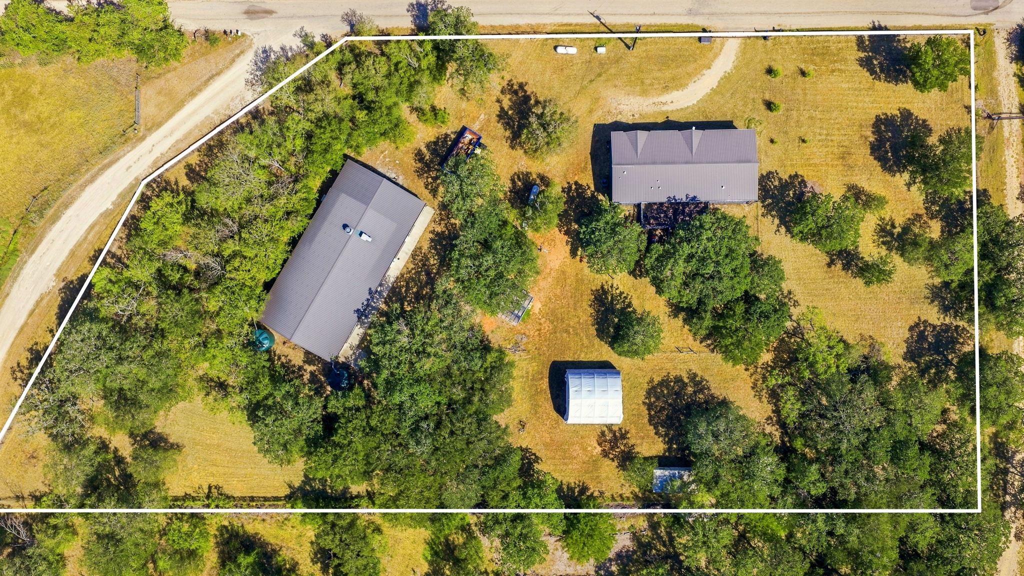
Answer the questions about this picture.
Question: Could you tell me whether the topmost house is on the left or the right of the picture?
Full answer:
The topmost house sits on the right side.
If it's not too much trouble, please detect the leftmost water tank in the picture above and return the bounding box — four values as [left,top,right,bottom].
[253,328,280,352]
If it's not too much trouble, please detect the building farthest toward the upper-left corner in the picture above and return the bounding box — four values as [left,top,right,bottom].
[257,160,426,363]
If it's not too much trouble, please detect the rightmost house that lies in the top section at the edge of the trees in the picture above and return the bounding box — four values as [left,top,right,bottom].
[611,126,760,204]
